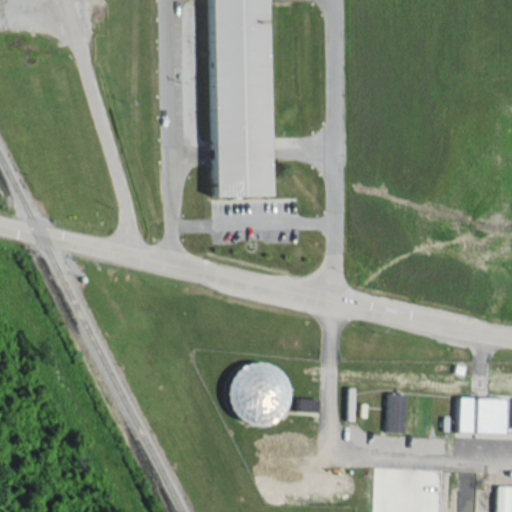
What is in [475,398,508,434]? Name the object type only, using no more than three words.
building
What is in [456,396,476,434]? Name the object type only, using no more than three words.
building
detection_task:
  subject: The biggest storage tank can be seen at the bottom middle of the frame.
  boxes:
[226,361,294,429]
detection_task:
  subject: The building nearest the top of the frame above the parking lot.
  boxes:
[207,0,276,203]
